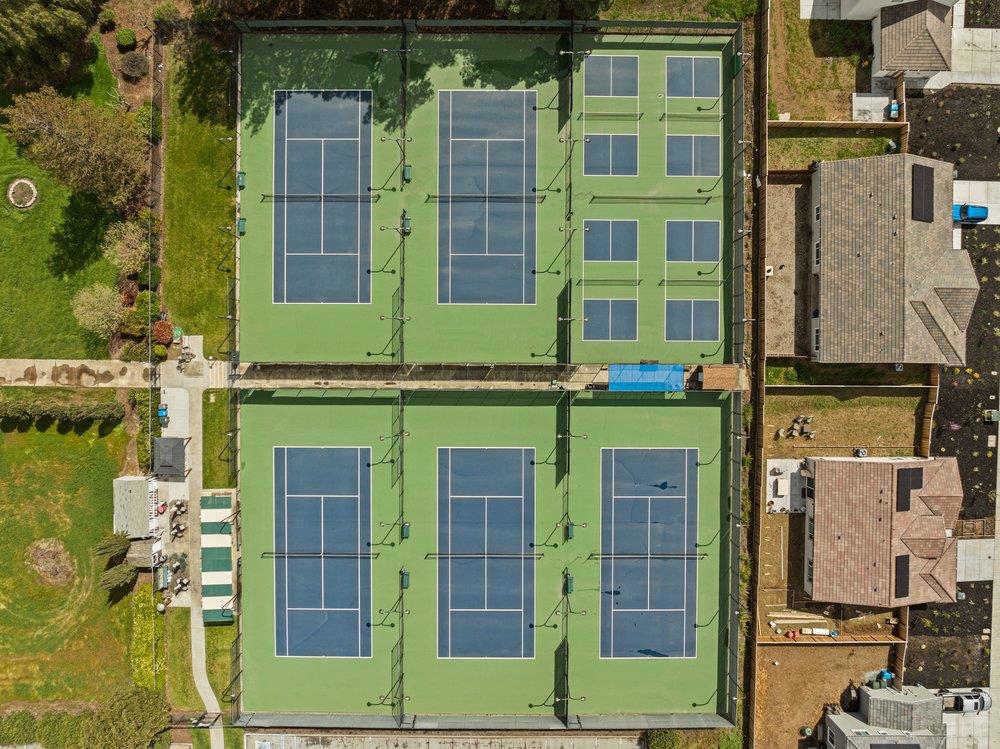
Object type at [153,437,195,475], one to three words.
gazebo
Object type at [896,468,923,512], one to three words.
solar panel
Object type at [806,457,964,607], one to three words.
house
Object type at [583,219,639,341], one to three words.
sports court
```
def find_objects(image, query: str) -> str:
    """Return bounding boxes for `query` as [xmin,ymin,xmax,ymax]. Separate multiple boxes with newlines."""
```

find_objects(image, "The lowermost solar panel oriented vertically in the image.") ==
[895,555,909,598]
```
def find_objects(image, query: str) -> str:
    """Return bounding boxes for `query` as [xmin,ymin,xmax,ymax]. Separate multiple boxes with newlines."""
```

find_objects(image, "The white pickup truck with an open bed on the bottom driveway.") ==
[935,689,987,715]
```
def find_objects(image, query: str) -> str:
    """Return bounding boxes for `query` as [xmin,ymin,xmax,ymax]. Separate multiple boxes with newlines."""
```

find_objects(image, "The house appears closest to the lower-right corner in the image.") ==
[826,687,950,749]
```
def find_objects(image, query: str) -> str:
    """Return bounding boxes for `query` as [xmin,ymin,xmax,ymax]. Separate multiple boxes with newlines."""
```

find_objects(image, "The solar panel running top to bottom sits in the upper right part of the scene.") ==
[911,164,934,223]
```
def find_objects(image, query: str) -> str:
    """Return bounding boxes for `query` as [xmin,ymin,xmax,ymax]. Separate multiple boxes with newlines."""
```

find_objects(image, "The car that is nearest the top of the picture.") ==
[953,204,987,225]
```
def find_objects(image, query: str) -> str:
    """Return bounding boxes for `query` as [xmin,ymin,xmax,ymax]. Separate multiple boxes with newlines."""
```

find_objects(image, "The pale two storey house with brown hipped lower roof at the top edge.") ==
[841,0,955,71]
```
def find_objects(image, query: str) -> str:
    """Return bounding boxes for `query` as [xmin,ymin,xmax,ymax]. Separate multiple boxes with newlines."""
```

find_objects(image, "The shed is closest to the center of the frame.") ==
[697,363,739,391]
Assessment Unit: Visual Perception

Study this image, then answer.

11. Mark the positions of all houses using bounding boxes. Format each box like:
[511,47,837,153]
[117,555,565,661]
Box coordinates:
[841,0,955,71]
[812,152,980,366]
[826,687,950,749]
[806,457,964,607]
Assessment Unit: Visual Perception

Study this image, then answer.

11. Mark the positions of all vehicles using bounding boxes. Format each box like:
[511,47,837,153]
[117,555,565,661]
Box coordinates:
[953,204,987,225]
[935,689,987,715]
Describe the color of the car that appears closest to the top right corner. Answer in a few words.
blue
